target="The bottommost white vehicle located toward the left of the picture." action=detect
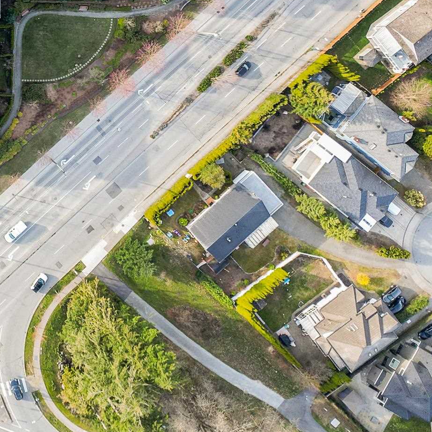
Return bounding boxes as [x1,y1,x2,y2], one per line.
[29,272,49,293]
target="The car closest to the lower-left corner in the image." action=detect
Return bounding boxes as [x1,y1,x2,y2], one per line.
[10,377,23,400]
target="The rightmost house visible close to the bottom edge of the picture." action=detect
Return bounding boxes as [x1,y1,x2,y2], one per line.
[361,328,432,420]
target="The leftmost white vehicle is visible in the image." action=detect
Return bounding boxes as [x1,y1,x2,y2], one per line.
[3,219,29,242]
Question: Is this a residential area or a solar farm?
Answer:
residential area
